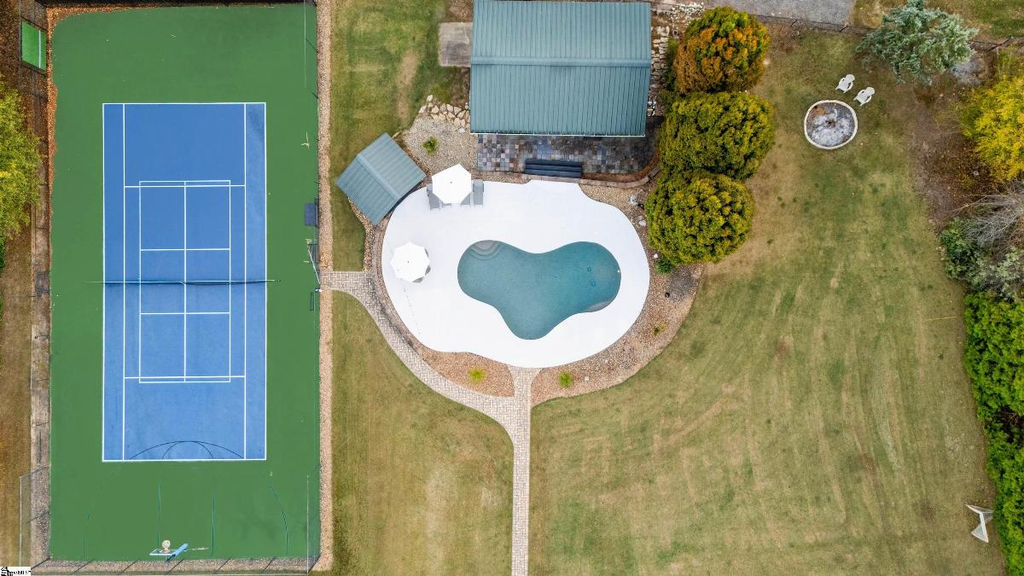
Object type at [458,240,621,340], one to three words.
swimming pool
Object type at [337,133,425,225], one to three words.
shed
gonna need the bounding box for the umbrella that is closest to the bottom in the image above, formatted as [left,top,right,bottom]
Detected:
[391,242,430,283]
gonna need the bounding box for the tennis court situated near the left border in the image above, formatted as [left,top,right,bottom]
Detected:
[50,7,320,560]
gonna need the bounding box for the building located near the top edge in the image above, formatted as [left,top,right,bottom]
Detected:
[470,0,654,139]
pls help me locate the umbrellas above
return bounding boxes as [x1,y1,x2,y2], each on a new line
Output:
[432,164,472,204]
[391,242,430,283]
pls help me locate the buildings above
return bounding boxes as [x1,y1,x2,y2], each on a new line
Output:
[470,0,654,139]
[337,133,425,225]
